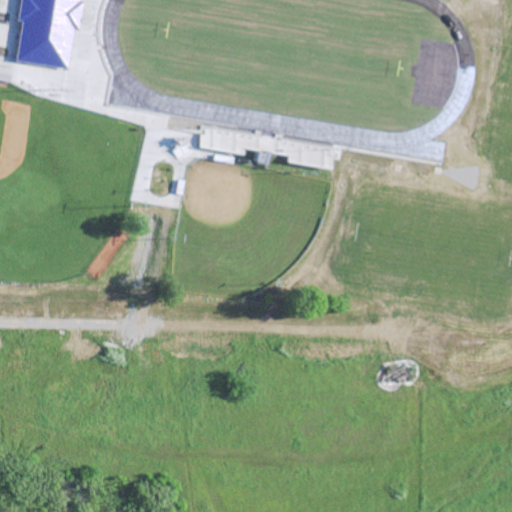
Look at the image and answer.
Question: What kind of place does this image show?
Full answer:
What you see here is a sports ground.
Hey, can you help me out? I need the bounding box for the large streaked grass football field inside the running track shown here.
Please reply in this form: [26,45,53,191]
[118,0,456,132]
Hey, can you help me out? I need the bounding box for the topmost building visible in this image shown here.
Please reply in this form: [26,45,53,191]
[16,0,82,68]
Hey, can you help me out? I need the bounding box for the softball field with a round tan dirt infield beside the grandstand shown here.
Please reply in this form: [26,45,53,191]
[174,158,331,301]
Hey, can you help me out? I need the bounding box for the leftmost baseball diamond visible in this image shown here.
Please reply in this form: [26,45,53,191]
[0,84,143,283]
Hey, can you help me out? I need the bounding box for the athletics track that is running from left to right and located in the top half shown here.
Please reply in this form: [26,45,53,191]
[104,0,474,162]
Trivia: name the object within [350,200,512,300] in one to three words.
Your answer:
soccer field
